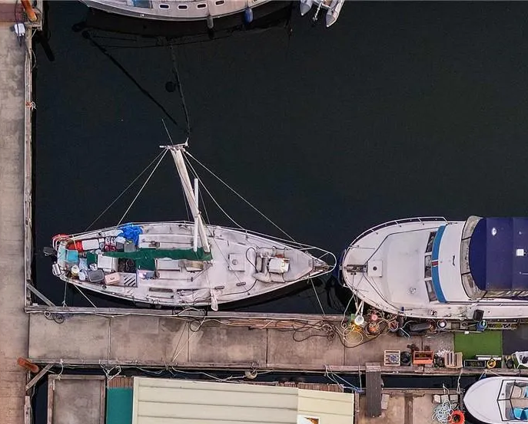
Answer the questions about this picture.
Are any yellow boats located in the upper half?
No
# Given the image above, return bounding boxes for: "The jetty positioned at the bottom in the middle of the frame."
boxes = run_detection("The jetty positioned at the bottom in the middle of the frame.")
[32,286,528,390]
